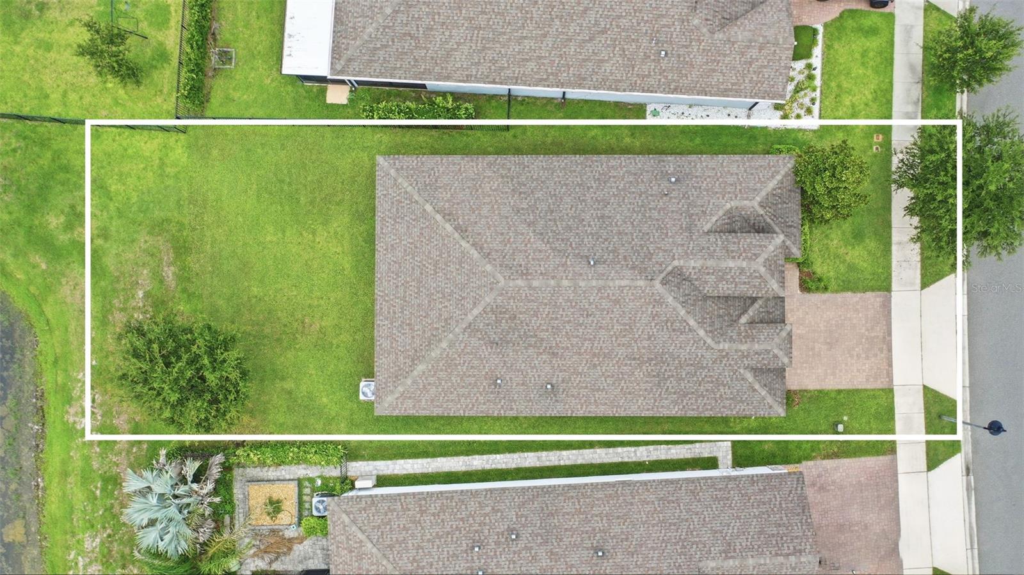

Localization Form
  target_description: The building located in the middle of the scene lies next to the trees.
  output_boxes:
[375,155,801,416]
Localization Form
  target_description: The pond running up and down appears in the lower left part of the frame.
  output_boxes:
[0,294,45,575]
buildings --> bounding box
[327,465,821,575]
[375,155,801,416]
[330,0,799,116]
